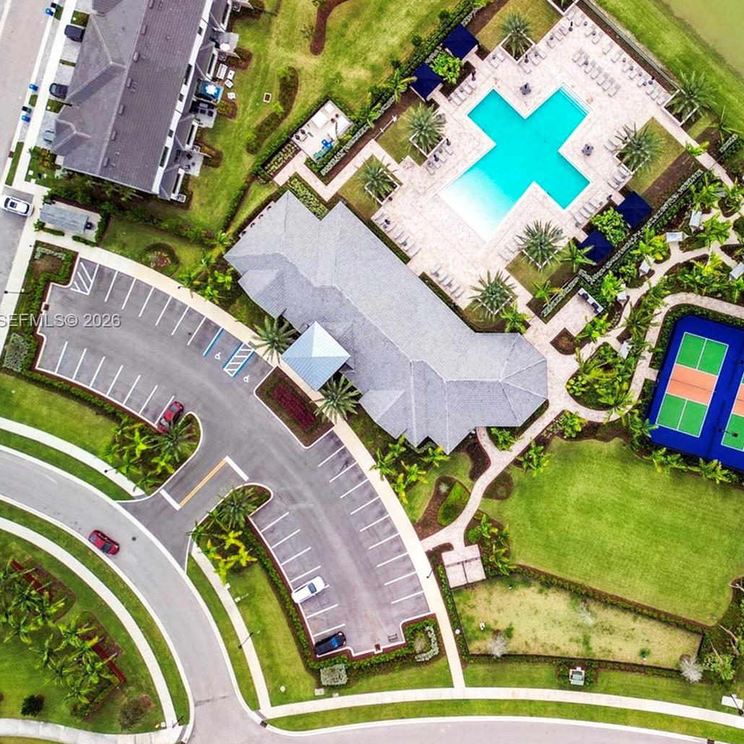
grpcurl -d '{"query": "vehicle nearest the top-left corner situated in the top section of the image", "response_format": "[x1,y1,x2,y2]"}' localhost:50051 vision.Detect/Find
[58,22,86,42]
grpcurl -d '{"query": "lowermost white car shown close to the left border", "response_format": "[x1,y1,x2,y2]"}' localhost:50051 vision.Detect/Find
[0,195,36,216]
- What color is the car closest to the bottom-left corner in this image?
red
